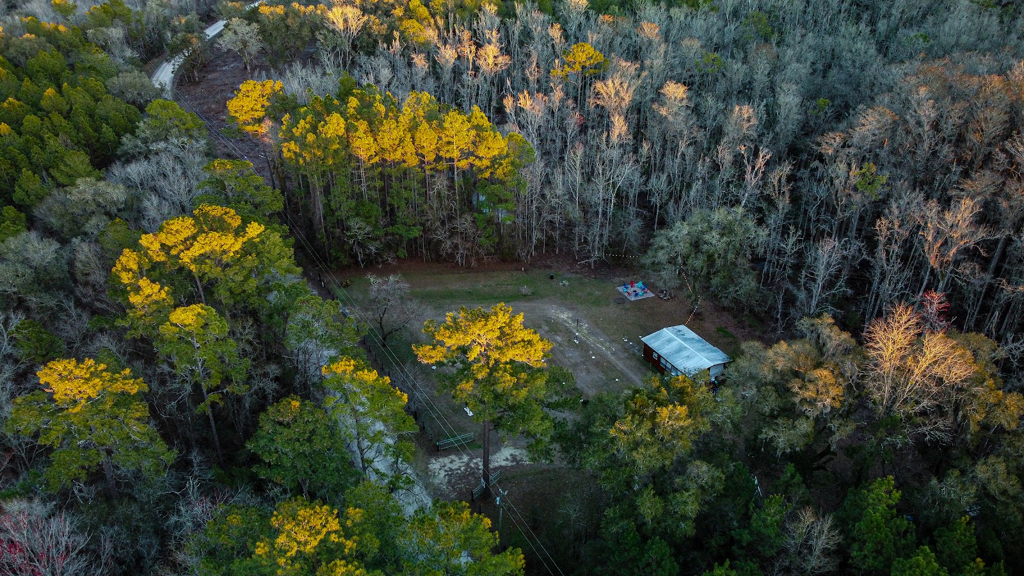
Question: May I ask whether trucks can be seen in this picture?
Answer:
No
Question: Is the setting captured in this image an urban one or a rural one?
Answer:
rural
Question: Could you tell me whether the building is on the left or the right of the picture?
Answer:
right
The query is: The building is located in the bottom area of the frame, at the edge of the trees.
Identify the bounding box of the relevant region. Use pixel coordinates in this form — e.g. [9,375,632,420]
[643,323,729,388]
